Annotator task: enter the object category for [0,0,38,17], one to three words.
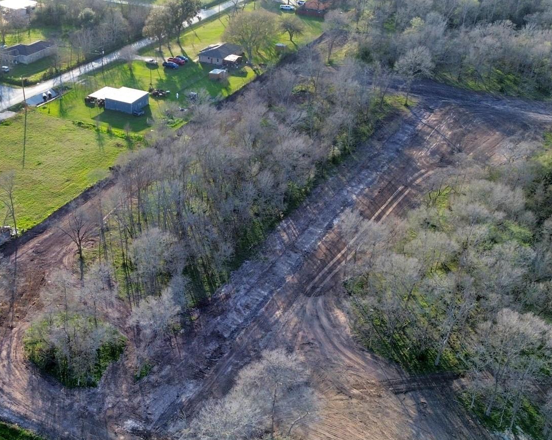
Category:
shed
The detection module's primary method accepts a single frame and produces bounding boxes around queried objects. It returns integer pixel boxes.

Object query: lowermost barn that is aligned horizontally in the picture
[91,86,151,114]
